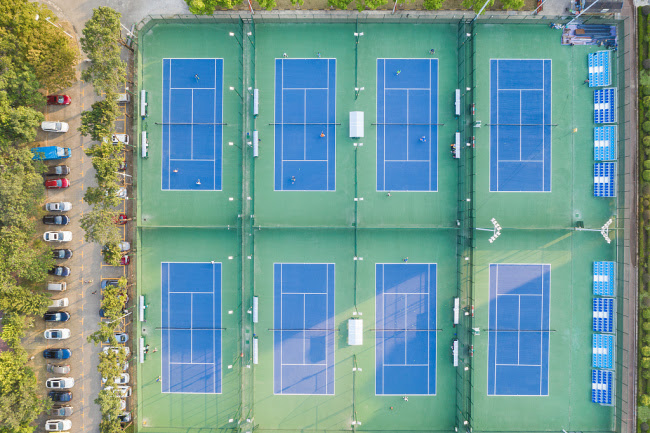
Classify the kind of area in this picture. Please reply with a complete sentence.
This looks like a sports ground.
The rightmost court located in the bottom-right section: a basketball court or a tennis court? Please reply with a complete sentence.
I'd identify the rightmost court located in the bottom-right section as a tennis court.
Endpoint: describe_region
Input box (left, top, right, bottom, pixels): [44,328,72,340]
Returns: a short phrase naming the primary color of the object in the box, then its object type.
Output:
white vehicle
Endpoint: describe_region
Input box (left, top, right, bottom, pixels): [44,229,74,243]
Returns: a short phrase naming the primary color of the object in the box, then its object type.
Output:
white vehicle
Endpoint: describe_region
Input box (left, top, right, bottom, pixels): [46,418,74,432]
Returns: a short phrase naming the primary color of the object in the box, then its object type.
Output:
white car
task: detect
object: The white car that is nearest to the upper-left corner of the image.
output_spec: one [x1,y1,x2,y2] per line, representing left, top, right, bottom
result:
[41,119,71,133]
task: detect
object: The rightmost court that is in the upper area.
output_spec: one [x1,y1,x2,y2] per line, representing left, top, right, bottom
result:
[474,23,616,228]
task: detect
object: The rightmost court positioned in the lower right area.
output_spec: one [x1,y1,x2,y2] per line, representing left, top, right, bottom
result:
[474,228,616,427]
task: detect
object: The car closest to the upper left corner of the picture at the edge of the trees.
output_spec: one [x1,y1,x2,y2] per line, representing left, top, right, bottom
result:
[46,94,74,106]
